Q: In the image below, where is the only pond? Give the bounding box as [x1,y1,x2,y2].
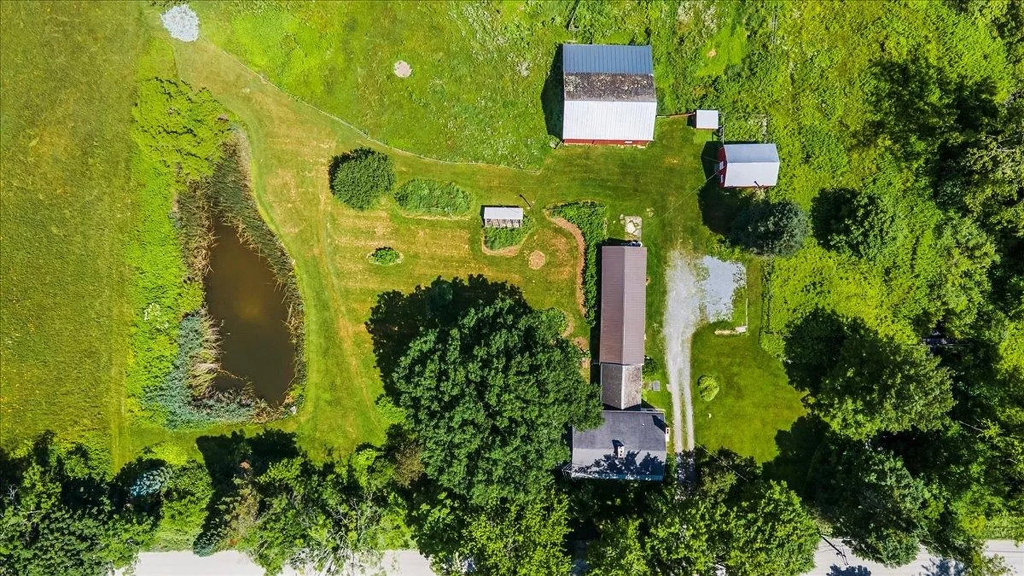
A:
[205,213,297,405]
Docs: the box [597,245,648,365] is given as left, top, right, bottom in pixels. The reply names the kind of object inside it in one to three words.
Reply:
shed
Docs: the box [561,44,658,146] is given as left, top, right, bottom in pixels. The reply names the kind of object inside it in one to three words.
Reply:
barn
